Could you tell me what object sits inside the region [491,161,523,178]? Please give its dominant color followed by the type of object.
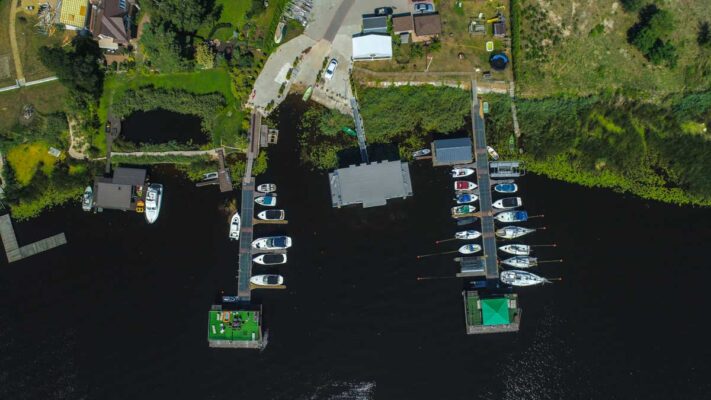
gray boat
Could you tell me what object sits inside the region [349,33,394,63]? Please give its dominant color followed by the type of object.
white tent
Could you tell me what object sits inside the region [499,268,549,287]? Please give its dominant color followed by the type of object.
white boat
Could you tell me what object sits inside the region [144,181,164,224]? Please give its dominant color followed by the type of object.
white boat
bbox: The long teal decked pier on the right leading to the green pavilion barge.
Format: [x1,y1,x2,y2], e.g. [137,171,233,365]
[452,105,515,278]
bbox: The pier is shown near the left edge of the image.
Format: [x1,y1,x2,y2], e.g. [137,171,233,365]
[0,214,67,262]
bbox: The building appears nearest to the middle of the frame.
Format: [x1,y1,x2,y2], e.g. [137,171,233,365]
[329,159,412,208]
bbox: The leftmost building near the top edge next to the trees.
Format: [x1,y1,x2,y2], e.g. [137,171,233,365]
[53,0,95,33]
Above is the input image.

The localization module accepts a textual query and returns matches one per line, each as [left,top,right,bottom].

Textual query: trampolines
[490,50,512,70]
